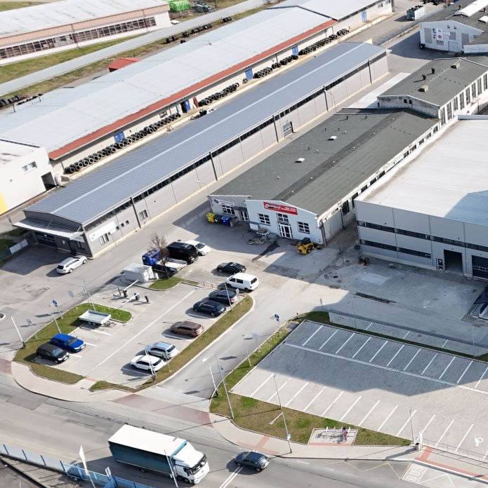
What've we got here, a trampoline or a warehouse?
warehouse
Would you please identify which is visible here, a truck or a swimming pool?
truck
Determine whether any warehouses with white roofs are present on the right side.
Yes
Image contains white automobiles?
Yes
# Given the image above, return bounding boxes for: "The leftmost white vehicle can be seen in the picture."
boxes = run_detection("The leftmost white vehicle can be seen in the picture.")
[53,257,90,274]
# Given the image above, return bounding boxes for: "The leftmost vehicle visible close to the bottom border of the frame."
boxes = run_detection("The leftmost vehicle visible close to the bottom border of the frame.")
[109,424,214,486]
